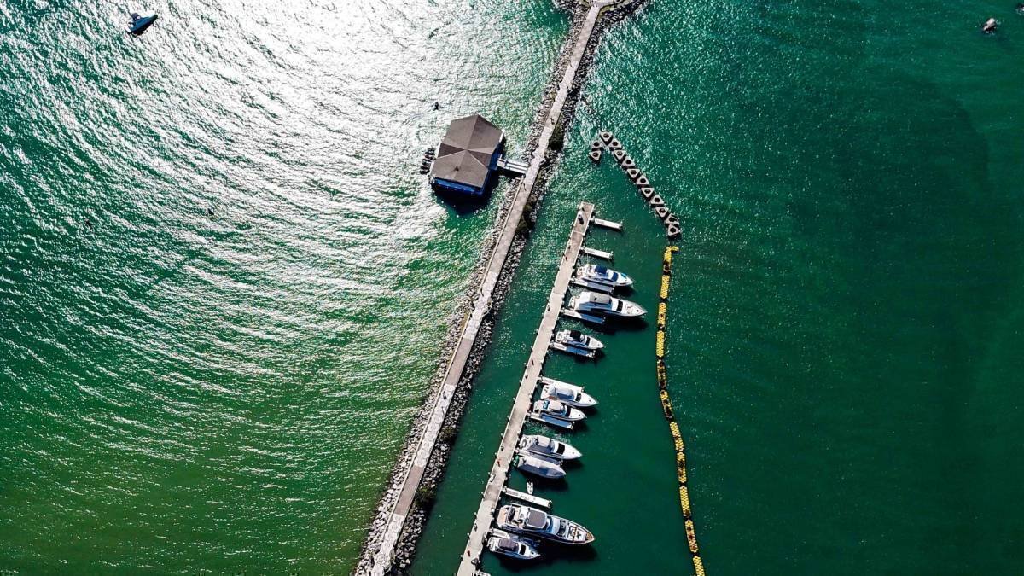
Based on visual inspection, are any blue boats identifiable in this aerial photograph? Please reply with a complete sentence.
Yes, you can see a blue boat in this photo.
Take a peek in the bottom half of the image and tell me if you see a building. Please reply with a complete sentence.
No, looking in the bottom half of the image, there is no building.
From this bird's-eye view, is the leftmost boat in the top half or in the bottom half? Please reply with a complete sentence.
You can find the leftmost boat in the top half.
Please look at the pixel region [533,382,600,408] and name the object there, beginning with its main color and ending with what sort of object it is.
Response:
white boat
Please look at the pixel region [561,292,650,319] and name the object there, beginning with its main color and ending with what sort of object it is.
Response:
white boat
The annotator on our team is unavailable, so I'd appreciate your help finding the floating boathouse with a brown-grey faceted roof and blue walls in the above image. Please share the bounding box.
[431,115,506,197]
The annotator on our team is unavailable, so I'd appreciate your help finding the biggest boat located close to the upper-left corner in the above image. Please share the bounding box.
[125,14,158,36]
